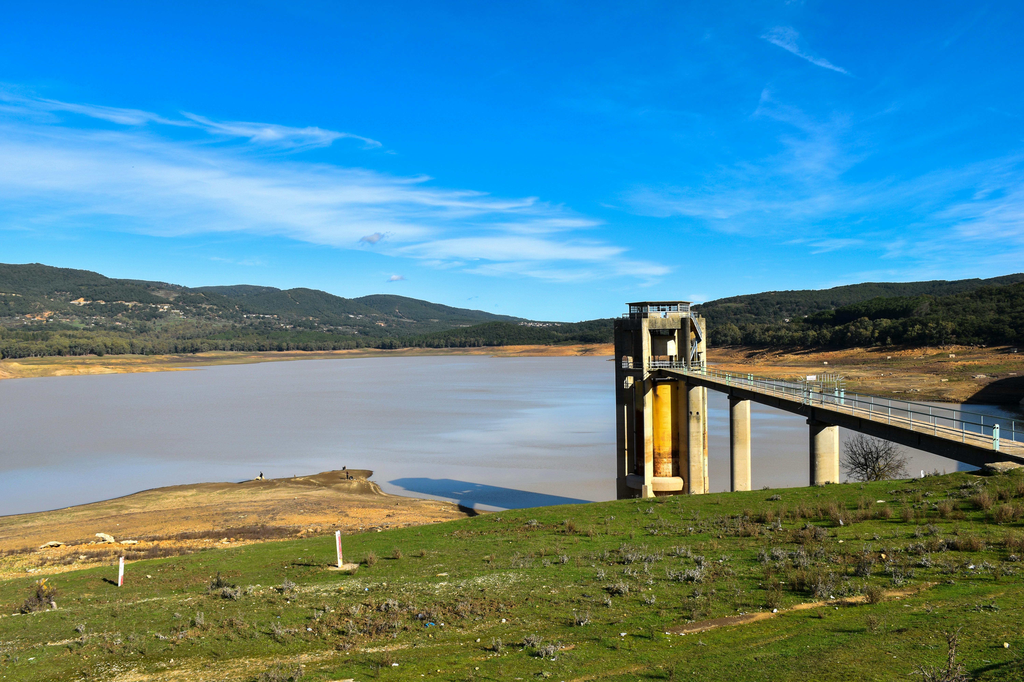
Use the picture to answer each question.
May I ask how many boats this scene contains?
none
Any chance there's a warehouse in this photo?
No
